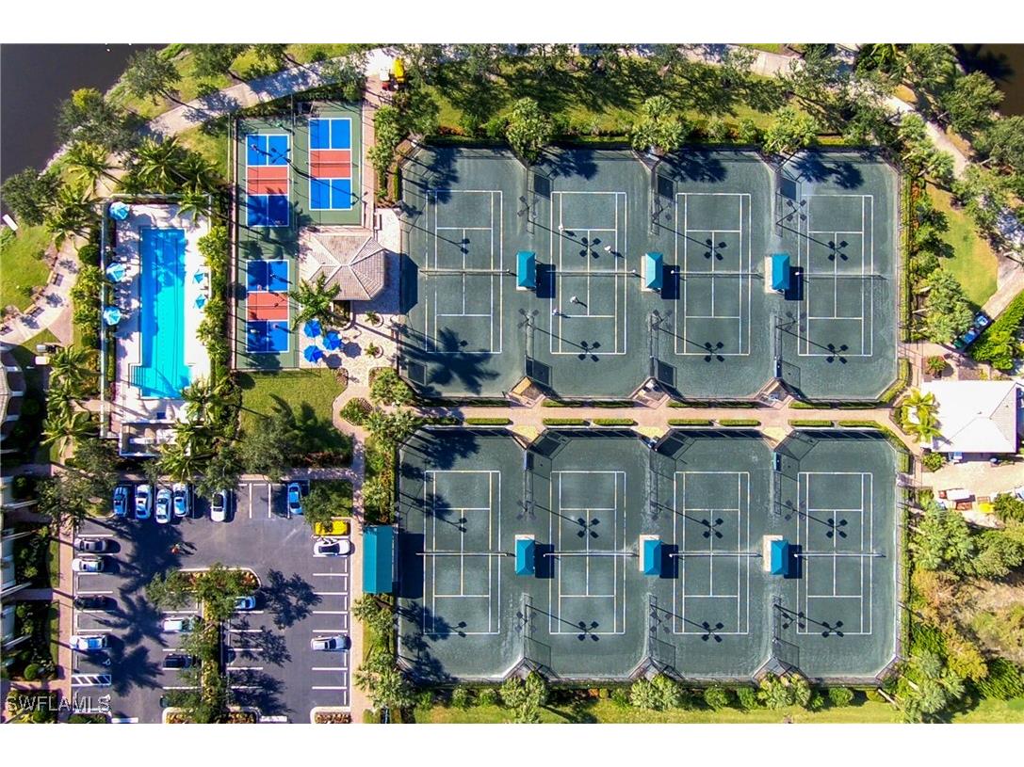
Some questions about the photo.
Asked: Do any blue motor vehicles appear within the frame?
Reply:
Yes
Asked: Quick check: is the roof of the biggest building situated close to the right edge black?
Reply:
No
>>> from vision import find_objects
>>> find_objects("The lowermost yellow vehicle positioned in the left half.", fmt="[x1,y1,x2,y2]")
[316,520,347,535]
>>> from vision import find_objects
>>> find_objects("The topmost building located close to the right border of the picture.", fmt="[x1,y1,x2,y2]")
[914,380,1018,453]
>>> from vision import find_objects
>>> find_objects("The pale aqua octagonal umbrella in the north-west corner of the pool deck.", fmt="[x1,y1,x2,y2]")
[110,201,130,220]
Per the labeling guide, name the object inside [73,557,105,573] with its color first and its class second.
white car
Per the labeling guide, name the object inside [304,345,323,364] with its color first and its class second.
blue umbrella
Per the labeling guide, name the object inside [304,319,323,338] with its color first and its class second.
blue umbrella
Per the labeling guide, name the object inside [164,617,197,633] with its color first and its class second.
white car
